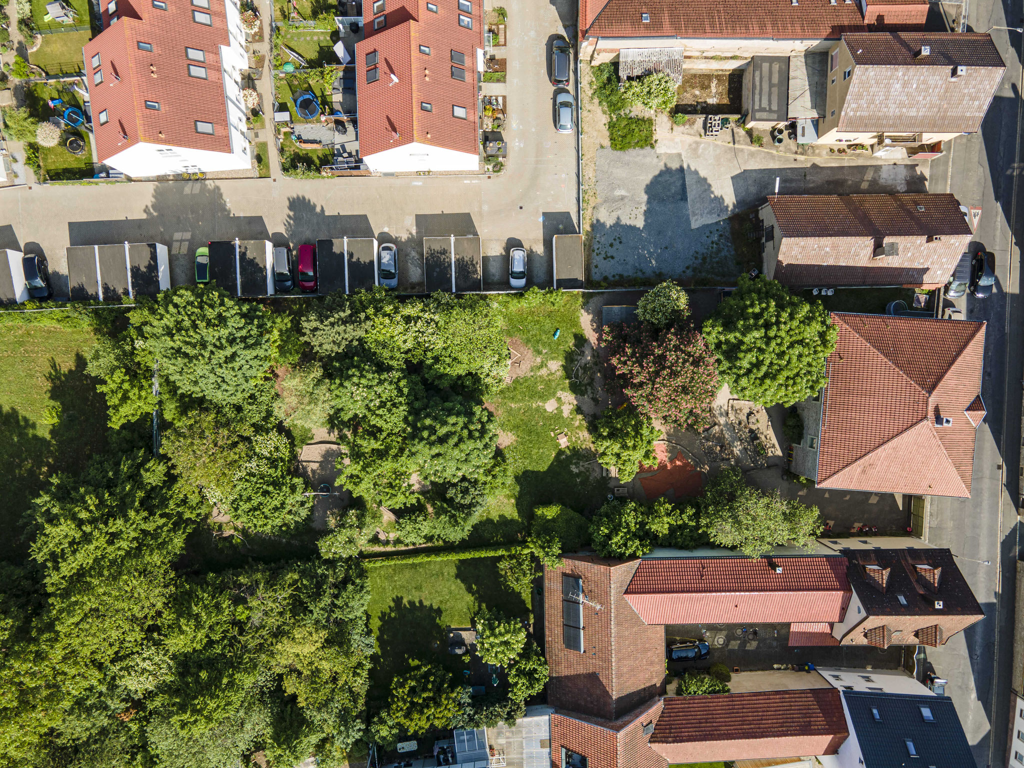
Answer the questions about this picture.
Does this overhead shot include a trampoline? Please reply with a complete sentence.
Yes, a trampoline appears in the view.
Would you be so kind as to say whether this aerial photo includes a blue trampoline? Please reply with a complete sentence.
Yes, there is a blue trampoline in the image.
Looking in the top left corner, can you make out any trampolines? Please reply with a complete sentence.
Yes, there is a trampoline in the top left corner.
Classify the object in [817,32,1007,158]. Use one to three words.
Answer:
house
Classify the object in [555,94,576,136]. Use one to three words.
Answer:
car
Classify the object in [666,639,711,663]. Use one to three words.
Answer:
car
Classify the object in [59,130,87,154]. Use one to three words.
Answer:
trampoline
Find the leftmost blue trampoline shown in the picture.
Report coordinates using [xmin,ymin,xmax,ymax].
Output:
[54,101,85,128]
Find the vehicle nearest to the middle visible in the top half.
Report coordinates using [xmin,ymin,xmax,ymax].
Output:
[507,246,529,289]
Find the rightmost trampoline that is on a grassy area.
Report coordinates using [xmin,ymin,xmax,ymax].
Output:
[287,84,319,118]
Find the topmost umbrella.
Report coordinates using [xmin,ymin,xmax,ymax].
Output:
[333,41,355,65]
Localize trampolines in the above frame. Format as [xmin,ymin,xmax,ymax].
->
[59,130,87,154]
[287,84,319,118]
[54,101,85,128]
